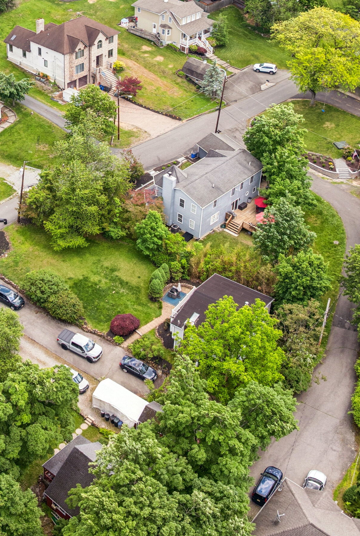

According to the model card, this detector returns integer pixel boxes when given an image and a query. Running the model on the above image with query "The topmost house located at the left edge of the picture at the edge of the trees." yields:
[2,15,127,90]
